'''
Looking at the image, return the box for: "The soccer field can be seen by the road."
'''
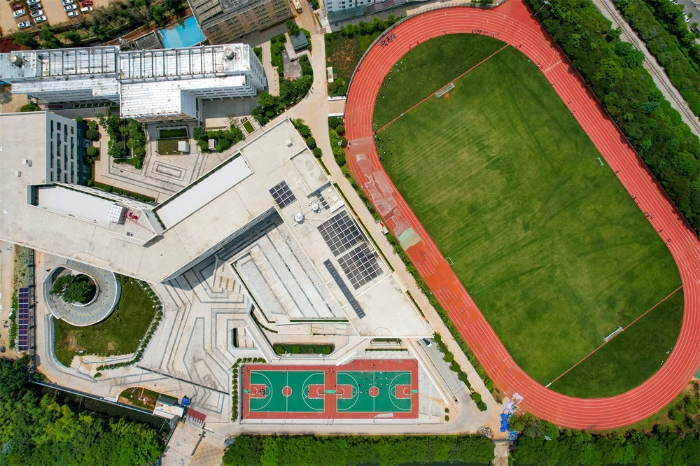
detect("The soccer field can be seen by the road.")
[374,31,684,395]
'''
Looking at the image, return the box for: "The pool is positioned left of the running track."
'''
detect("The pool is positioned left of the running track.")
[157,15,206,47]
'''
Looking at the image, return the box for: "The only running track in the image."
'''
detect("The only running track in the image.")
[344,0,700,425]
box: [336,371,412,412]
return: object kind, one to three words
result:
basketball court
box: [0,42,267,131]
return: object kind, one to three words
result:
building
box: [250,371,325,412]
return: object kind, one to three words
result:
basketball court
